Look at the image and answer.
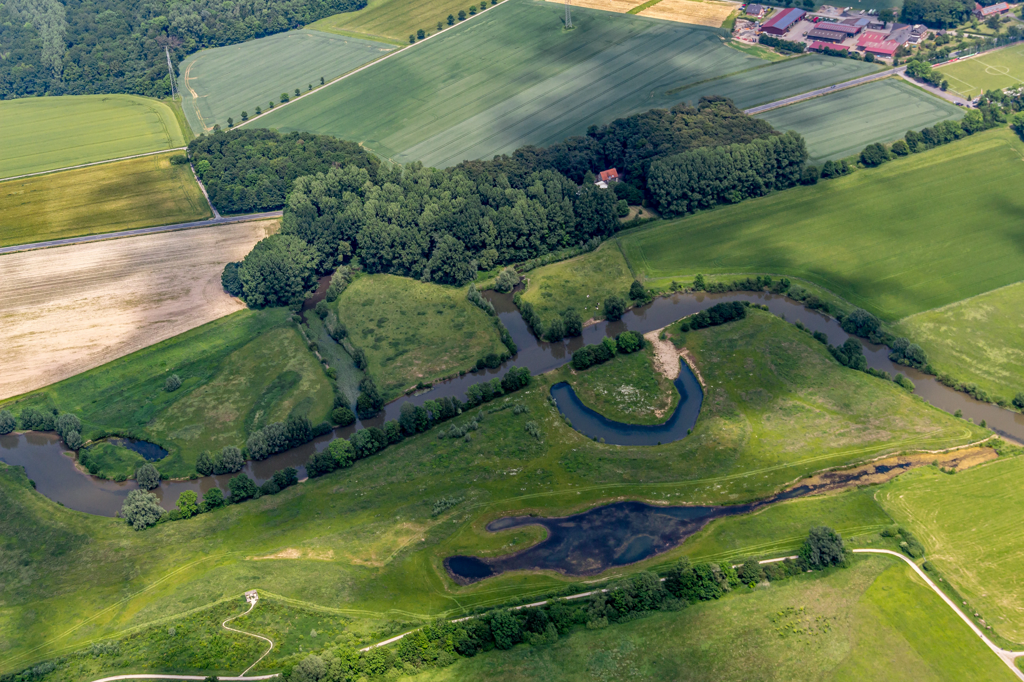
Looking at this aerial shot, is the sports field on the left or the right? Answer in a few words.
right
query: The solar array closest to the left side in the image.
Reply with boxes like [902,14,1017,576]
[772,6,805,29]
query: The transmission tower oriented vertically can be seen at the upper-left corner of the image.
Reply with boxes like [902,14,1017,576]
[166,47,181,100]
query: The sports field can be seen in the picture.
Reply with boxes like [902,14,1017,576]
[935,44,1024,97]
